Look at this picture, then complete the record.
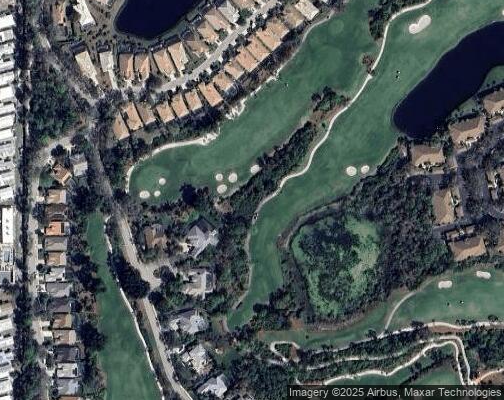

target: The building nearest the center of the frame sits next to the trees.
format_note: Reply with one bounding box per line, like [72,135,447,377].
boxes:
[185,220,221,254]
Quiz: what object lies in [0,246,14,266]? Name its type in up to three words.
swimming pool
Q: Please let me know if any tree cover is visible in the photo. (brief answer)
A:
Yes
